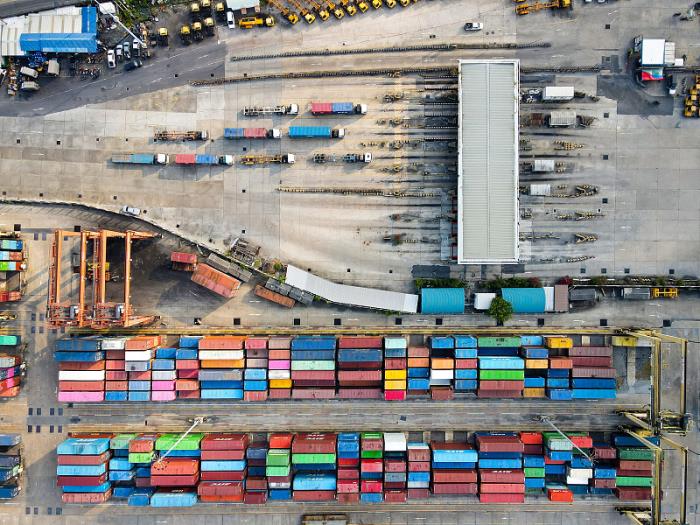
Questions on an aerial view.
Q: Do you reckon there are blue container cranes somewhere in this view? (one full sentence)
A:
No, there is no blue container crane in the image.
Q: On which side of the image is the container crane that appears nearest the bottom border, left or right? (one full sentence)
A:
The container crane that appears nearest the bottom border appears in the right half of the scene.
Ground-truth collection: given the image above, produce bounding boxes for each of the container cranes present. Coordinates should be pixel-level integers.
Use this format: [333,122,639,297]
[617,423,695,525]
[617,326,695,435]
[49,227,126,330]
[93,227,167,330]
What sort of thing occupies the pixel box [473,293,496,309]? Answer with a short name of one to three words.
shed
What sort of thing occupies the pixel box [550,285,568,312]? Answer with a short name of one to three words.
shed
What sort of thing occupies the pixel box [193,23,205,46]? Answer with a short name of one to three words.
vehicle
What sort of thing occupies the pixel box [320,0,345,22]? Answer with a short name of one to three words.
truck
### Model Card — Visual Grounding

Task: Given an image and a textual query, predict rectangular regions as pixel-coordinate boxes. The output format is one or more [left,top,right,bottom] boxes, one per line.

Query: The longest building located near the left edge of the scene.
[1,5,103,57]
